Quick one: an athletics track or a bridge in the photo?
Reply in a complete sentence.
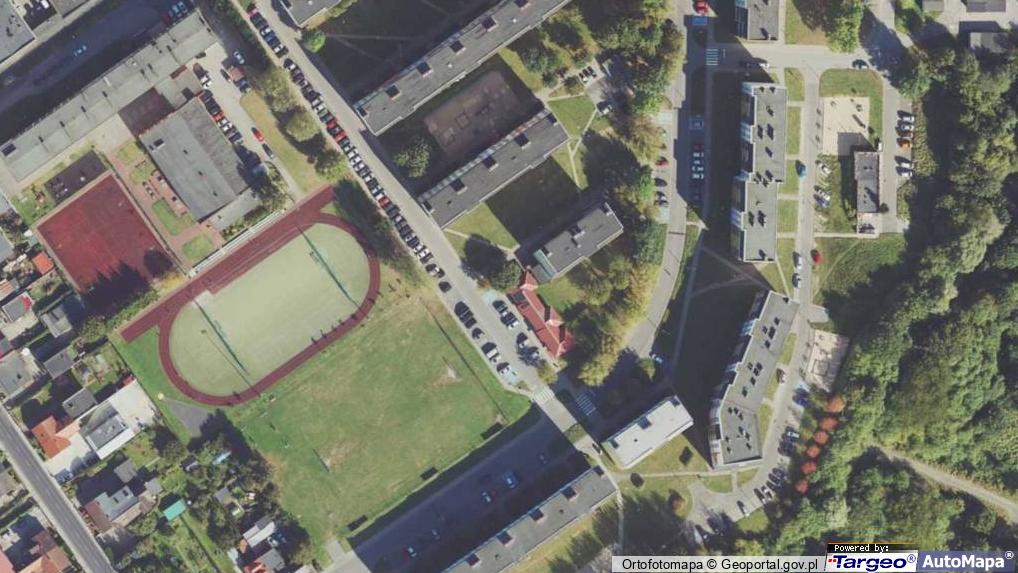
I can see an athletics track in this picture.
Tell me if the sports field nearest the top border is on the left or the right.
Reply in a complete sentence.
You can find the sports field nearest the top border on the left side of the picture.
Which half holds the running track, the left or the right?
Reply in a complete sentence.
You can find the running track on the left side of the picture.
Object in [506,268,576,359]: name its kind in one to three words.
building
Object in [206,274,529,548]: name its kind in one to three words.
sports field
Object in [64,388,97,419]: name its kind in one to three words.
house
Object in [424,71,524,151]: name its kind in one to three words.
sports court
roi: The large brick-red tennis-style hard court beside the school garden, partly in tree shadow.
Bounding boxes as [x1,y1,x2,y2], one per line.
[37,175,168,308]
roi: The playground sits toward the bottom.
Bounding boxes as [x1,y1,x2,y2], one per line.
[806,331,848,390]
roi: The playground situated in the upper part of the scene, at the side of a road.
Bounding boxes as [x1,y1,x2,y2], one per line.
[822,97,870,156]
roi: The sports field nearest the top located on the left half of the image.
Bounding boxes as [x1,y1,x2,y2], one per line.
[169,227,370,395]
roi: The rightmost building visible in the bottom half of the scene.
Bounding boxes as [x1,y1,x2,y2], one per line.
[706,287,799,465]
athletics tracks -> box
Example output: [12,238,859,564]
[121,183,380,405]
